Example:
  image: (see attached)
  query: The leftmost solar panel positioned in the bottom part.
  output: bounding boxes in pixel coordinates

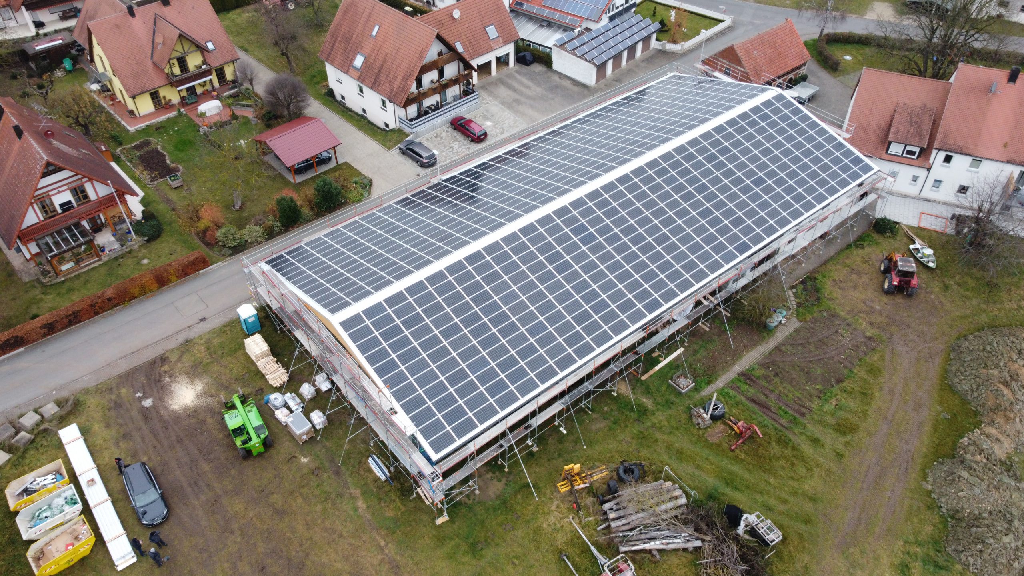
[287,415,308,438]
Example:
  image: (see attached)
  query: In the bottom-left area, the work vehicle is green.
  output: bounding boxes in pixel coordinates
[217,391,275,460]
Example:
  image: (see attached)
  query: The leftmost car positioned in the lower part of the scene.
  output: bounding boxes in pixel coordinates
[118,461,172,528]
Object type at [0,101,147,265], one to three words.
house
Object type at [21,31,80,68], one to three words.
shed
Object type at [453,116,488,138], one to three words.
car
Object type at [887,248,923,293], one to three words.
work vehicle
